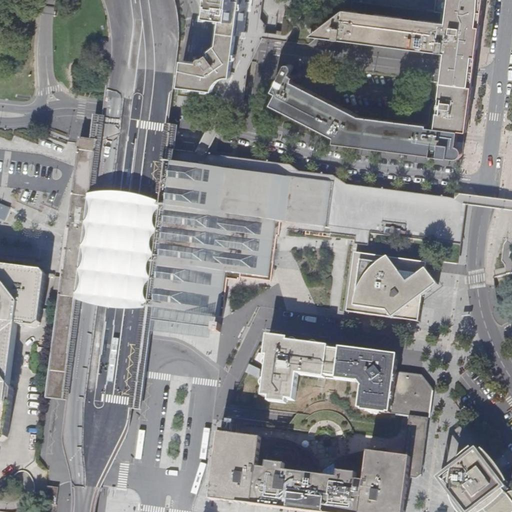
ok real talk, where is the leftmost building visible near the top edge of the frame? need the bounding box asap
[175,0,240,96]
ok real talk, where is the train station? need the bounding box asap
[150,149,332,338]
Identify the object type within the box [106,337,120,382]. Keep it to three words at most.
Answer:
vehicle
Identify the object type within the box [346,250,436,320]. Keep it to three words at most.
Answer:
building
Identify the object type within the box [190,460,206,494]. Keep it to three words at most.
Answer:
vehicle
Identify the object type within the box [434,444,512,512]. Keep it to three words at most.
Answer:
building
